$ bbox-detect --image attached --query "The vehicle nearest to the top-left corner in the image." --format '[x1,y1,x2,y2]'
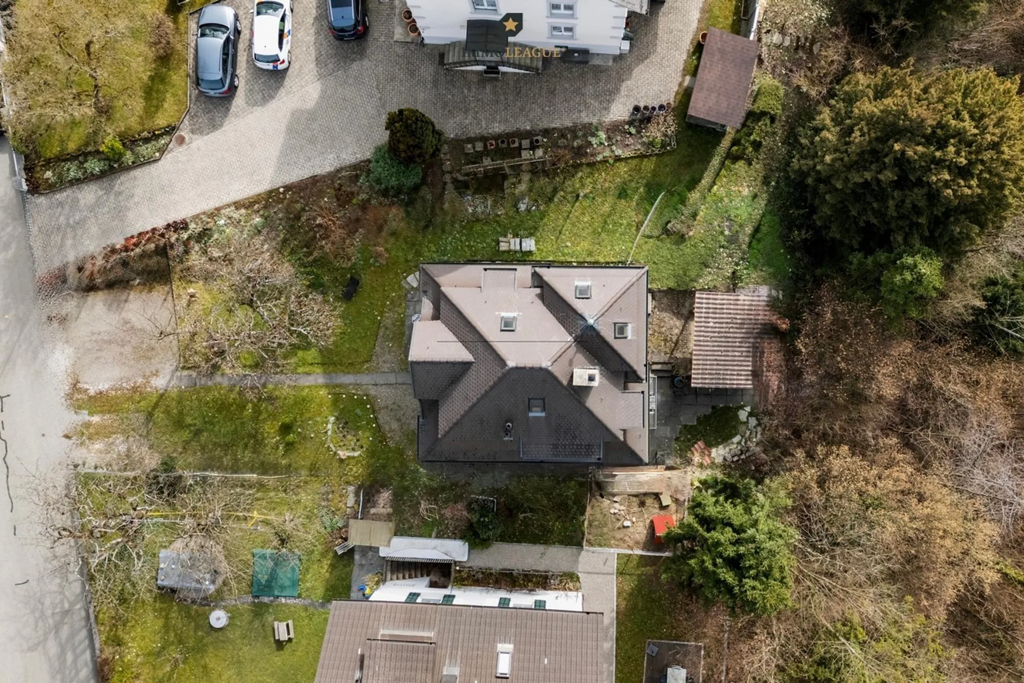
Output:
[196,7,241,95]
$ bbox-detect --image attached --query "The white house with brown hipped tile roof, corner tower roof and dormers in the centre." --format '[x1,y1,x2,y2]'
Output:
[408,259,659,467]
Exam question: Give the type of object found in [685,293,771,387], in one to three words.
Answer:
shed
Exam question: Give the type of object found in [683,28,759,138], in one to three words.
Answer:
shed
